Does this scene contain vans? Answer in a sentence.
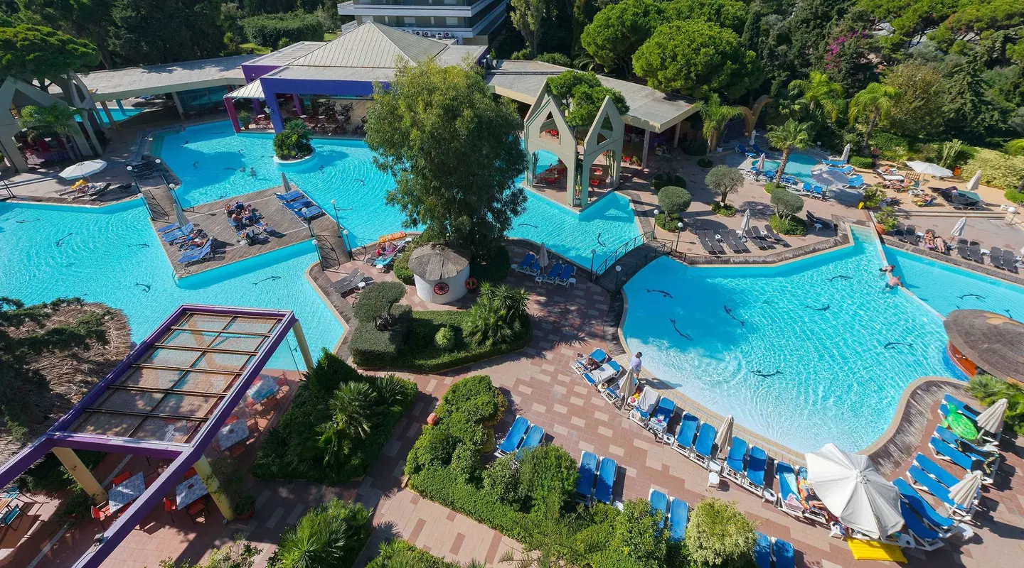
No, I can't see a single van in this photo.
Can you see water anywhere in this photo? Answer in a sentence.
Yes, there's water in this view.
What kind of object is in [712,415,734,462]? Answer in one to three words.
umbrella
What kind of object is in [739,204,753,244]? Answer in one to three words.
umbrella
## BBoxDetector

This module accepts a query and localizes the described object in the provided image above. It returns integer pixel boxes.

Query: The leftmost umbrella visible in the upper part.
[56,160,112,197]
